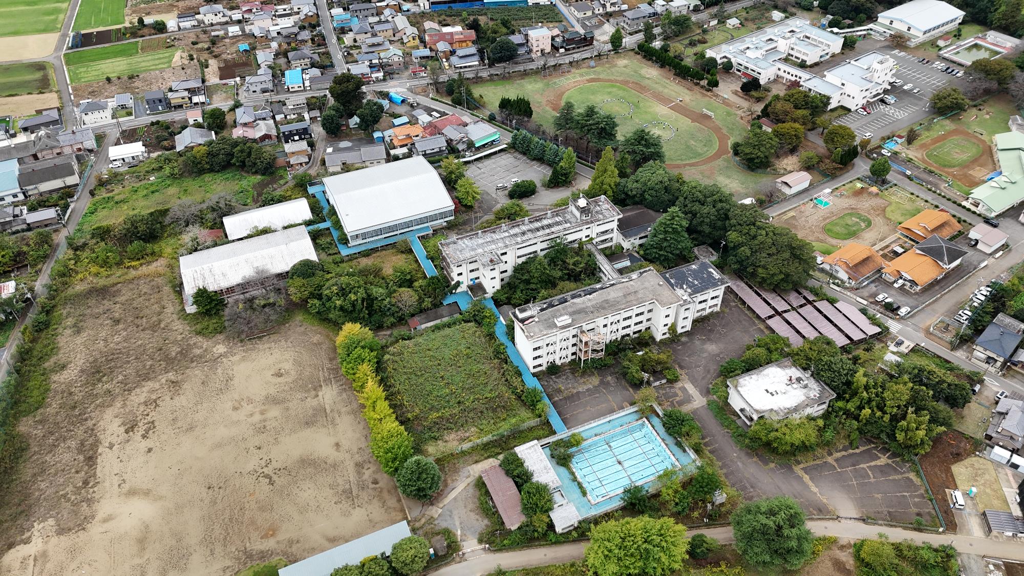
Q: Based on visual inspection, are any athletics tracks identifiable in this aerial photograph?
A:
Yes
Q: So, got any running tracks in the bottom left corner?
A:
No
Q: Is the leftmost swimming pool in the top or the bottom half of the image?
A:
bottom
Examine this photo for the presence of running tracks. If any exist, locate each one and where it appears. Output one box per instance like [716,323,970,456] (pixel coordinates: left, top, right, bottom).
[545,77,738,169]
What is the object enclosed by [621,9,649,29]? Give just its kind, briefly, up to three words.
house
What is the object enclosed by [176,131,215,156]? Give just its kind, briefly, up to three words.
house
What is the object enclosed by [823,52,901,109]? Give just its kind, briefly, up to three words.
building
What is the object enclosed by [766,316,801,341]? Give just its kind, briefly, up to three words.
shed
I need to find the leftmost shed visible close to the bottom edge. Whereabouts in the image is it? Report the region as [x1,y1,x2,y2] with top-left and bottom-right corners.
[279,521,413,576]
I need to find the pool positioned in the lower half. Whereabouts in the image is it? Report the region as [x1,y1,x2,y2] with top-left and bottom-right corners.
[539,403,694,536]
